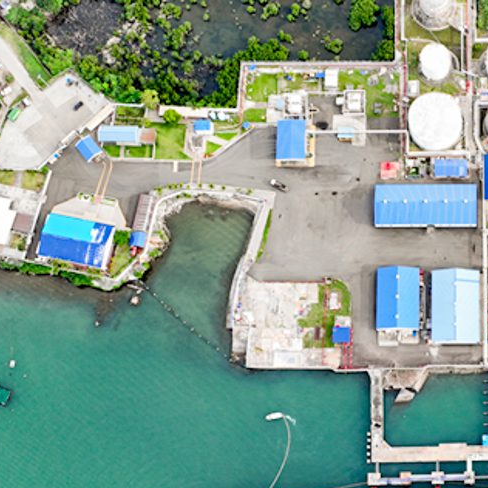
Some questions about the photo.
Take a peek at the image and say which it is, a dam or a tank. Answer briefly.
tank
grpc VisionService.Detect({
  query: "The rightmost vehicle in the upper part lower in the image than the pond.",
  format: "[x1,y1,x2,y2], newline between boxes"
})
[268,177,287,191]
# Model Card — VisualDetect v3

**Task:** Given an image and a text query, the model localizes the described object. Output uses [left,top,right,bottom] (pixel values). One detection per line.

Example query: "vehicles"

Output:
[268,177,287,191]
[73,101,84,111]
